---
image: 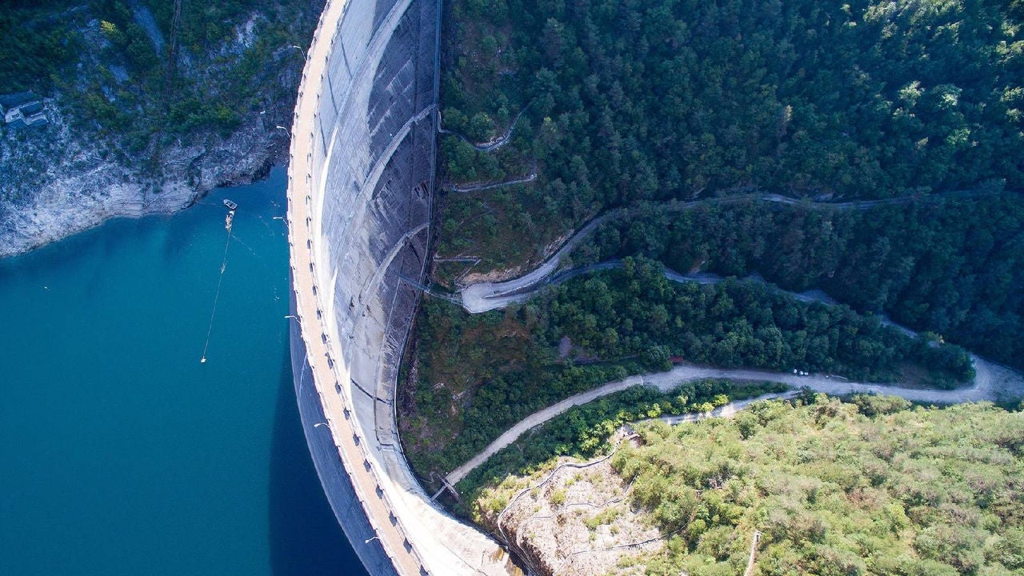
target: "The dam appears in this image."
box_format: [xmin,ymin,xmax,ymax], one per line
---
[286,0,529,576]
